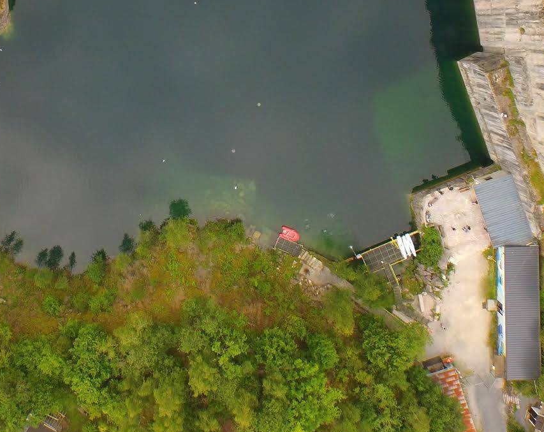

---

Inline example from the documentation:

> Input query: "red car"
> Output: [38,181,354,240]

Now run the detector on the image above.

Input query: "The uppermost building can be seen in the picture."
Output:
[466,166,532,249]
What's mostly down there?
water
